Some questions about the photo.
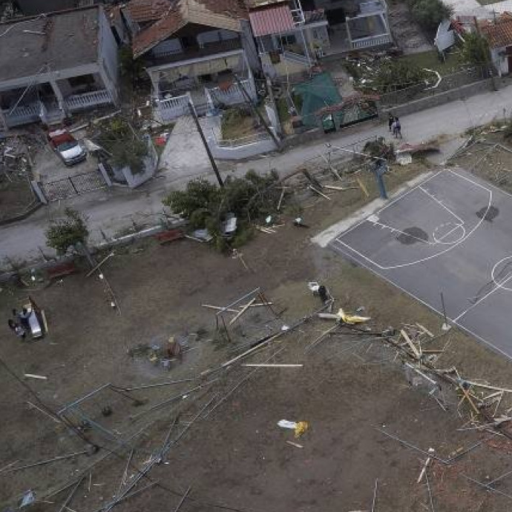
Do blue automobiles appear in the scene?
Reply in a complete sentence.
No, the picture doesn't show any blue automobile.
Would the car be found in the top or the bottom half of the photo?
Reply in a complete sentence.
The top half of the photo is where the car is.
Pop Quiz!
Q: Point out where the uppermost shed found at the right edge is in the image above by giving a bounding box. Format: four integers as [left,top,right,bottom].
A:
[450,0,495,39]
